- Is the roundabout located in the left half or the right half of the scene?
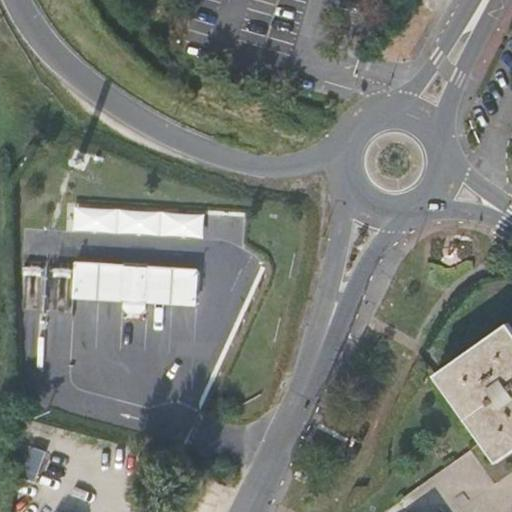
right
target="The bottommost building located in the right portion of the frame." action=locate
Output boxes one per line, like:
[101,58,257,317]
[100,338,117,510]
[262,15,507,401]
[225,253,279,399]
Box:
[384,446,512,512]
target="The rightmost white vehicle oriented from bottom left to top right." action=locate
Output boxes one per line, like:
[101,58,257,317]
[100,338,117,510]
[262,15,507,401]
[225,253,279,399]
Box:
[167,362,180,379]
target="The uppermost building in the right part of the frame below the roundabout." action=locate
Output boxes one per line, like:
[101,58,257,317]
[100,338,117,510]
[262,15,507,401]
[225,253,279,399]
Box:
[430,324,512,464]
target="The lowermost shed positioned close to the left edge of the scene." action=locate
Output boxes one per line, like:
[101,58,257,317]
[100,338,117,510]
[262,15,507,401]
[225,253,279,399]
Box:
[26,447,50,480]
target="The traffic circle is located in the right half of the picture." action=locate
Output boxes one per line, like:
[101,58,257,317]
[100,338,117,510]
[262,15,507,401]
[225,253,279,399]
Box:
[312,82,478,229]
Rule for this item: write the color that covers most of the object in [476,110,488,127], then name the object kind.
white vehicle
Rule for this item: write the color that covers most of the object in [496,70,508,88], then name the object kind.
white vehicle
